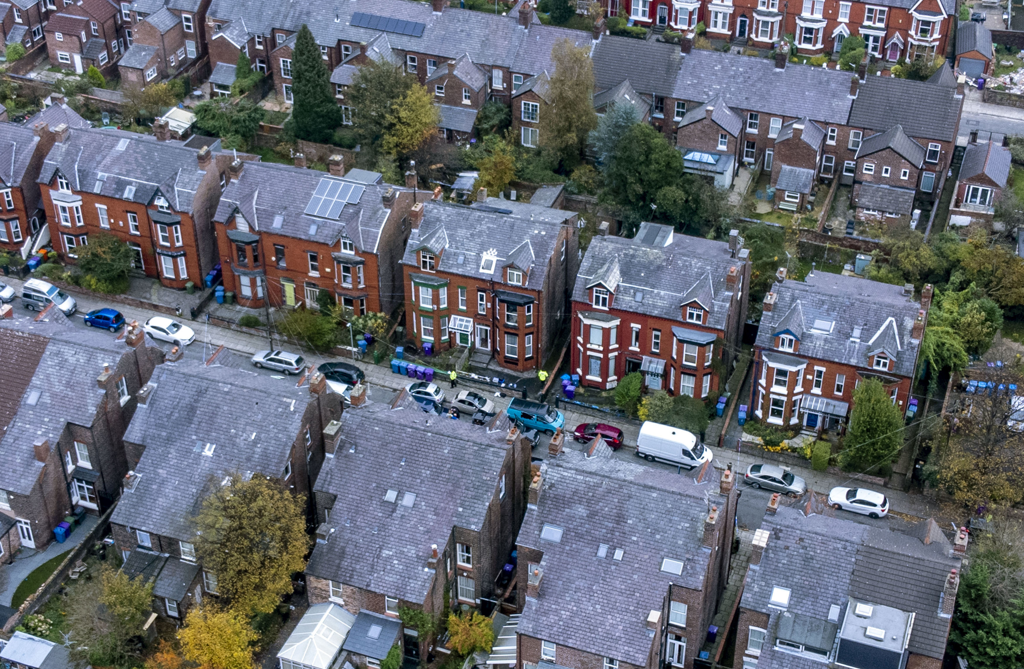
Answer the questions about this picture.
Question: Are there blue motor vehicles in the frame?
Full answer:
Yes, the picture does show a blue motor vehicle.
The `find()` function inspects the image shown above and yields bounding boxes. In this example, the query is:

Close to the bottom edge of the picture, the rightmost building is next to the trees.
[730,488,968,669]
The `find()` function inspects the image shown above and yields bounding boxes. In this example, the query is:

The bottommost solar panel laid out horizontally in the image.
[461,200,523,213]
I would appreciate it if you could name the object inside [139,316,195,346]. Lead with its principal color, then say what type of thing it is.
white car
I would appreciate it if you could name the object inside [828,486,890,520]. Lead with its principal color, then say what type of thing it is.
white car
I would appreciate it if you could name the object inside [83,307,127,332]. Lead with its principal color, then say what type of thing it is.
blue car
